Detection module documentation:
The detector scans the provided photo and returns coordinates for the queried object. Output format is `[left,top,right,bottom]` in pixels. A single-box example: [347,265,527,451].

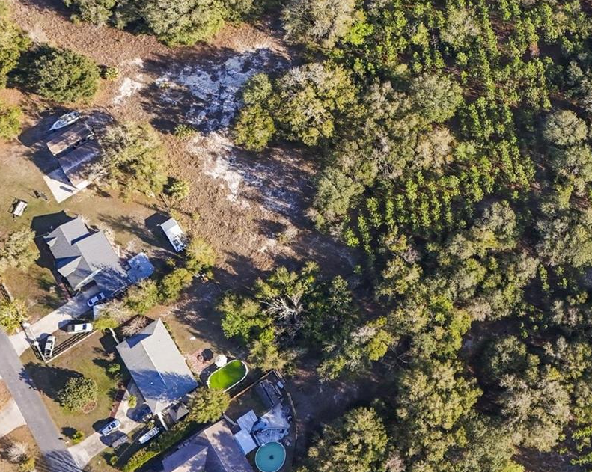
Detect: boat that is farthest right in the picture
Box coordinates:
[139,428,160,442]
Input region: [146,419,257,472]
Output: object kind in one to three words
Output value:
house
